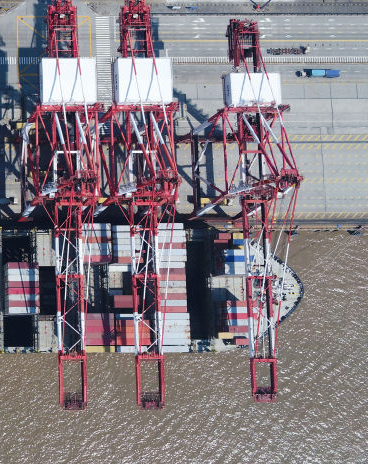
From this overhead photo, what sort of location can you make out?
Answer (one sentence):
This looks like a port.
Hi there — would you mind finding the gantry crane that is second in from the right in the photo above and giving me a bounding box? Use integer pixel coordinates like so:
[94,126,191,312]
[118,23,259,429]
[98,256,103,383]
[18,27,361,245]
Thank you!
[77,0,184,414]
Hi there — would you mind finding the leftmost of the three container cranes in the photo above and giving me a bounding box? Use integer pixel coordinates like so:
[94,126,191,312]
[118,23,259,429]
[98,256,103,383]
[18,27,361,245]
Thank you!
[8,0,109,414]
